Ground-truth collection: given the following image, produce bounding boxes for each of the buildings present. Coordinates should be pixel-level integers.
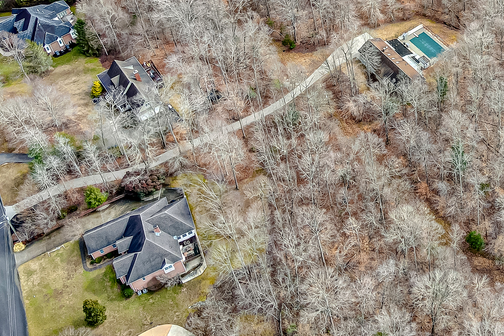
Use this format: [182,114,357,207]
[96,56,174,132]
[353,41,424,103]
[84,186,195,290]
[0,0,93,67]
